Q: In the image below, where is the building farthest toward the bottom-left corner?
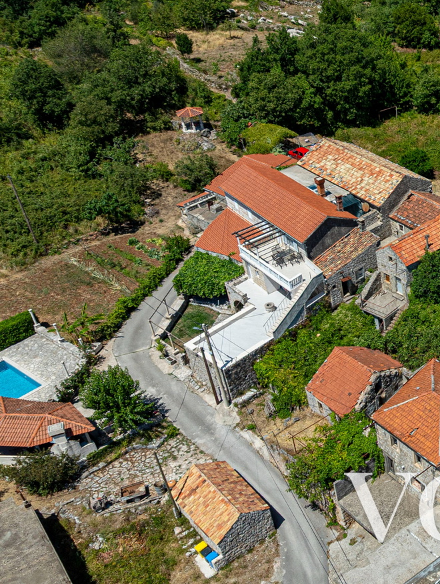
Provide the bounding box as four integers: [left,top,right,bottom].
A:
[0,500,70,584]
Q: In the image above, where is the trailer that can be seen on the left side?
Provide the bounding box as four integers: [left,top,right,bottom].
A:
[96,477,149,503]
